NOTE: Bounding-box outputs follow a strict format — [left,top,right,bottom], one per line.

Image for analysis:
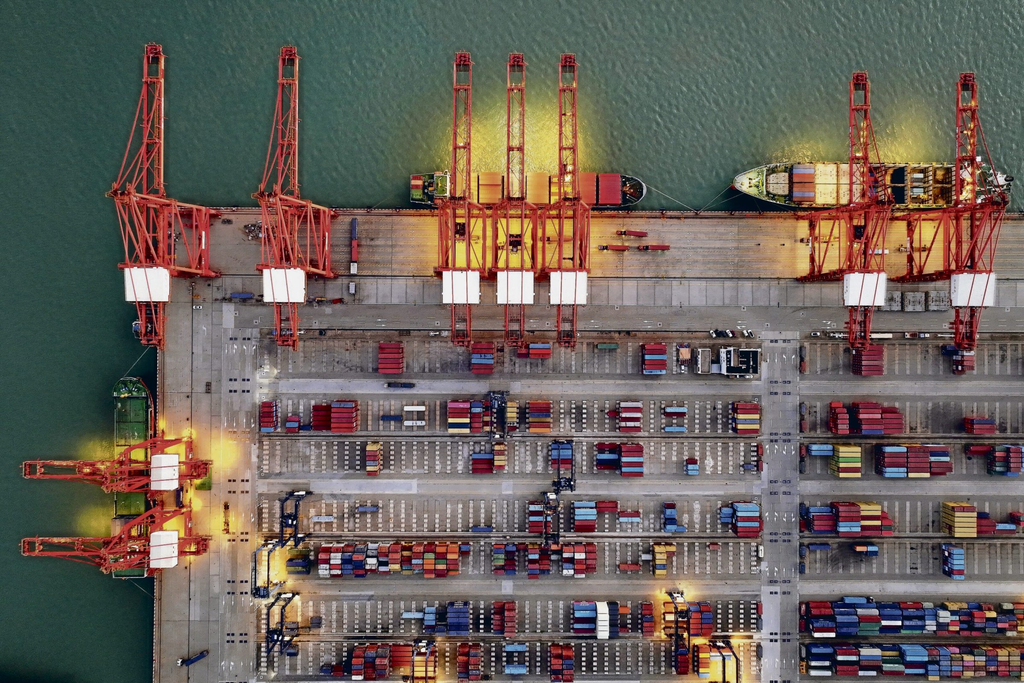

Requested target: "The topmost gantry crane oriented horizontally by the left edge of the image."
[18,430,215,493]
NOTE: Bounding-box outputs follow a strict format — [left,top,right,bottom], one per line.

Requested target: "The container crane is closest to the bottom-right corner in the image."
[706,638,741,683]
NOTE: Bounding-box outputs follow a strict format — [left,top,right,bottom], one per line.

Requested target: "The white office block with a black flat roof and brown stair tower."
[719,346,758,374]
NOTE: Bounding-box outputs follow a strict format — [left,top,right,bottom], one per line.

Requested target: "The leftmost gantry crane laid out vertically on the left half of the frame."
[108,44,221,349]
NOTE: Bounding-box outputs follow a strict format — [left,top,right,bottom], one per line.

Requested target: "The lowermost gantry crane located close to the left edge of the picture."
[17,500,214,574]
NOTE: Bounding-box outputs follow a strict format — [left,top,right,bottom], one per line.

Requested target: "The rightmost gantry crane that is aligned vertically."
[887,72,1011,353]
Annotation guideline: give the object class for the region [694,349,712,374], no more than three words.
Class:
building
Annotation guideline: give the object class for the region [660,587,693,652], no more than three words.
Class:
container crane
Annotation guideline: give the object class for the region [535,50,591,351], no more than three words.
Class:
container crane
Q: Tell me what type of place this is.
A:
port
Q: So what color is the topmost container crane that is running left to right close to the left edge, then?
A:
red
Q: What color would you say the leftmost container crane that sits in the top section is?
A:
red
